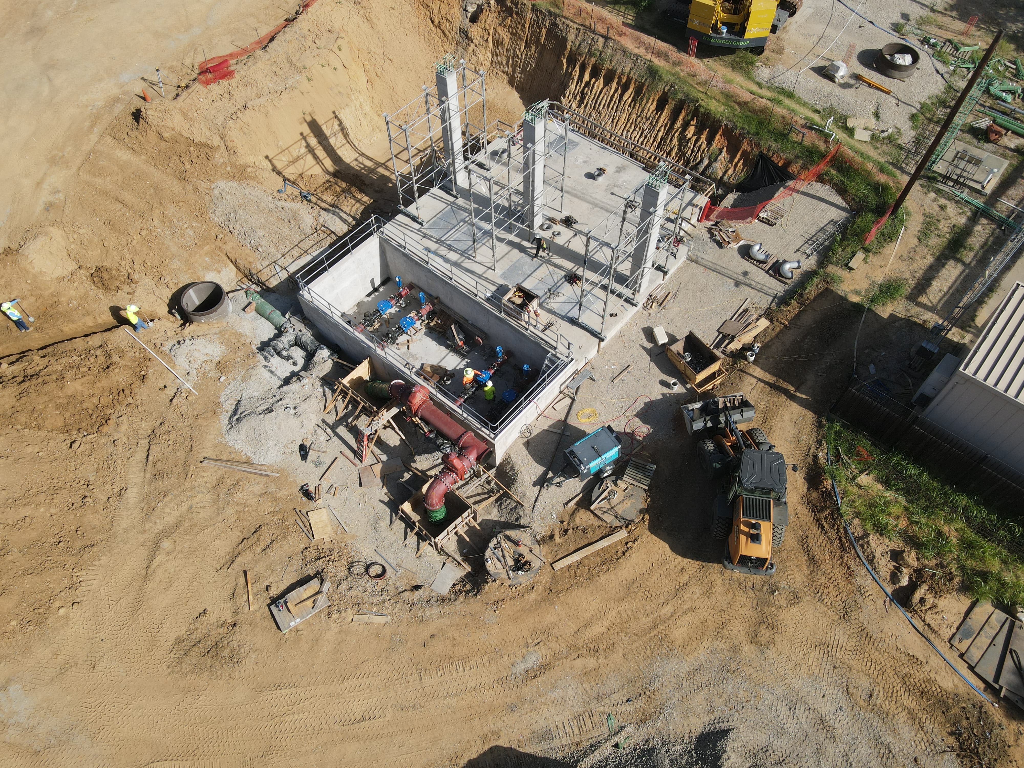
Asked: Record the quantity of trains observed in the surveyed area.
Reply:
four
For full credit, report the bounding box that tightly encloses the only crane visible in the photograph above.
[670,0,788,51]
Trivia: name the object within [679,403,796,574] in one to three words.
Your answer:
work vehicle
